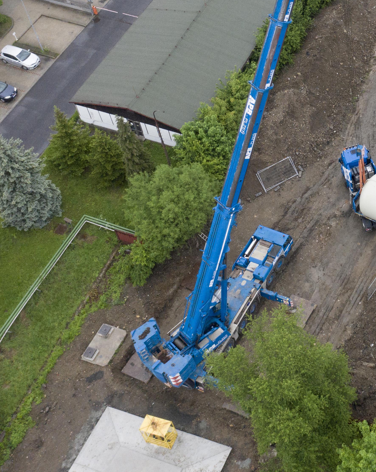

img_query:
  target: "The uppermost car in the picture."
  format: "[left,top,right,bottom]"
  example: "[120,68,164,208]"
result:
[0,47,41,71]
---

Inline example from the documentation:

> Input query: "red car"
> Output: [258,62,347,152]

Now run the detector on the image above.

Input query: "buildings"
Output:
[69,406,232,472]
[66,0,277,145]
